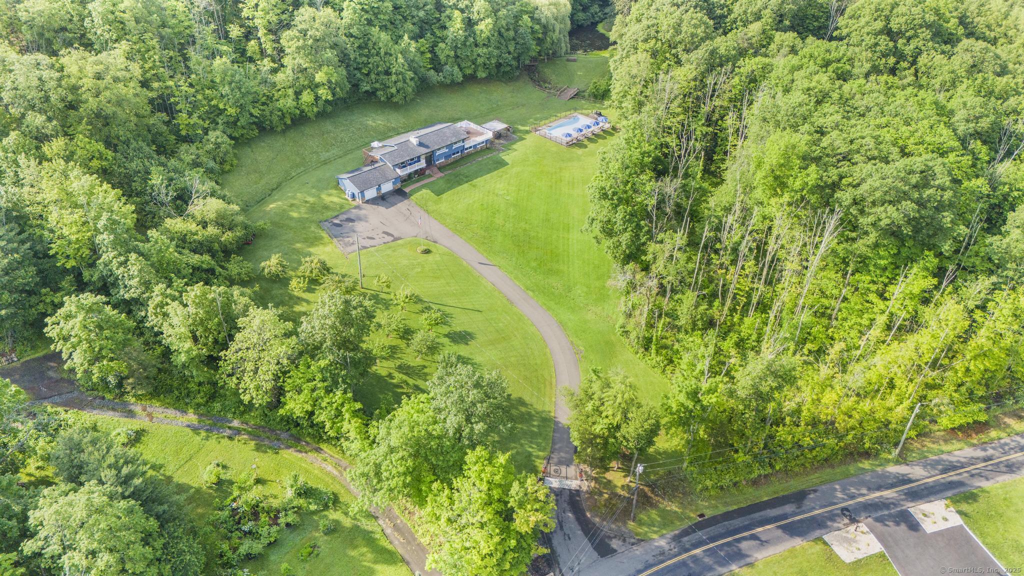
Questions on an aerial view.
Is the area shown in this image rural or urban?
rural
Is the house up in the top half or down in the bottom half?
top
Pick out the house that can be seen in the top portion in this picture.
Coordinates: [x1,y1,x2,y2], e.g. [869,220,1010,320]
[333,120,493,203]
